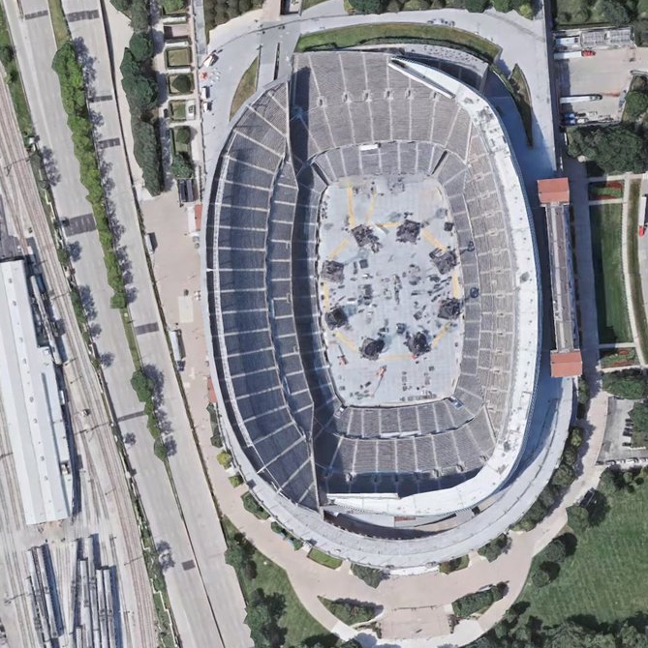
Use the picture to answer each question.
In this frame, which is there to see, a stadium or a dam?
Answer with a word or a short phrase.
stadium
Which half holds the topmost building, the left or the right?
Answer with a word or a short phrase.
right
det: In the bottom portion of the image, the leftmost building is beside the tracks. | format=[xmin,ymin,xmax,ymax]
[0,259,76,524]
